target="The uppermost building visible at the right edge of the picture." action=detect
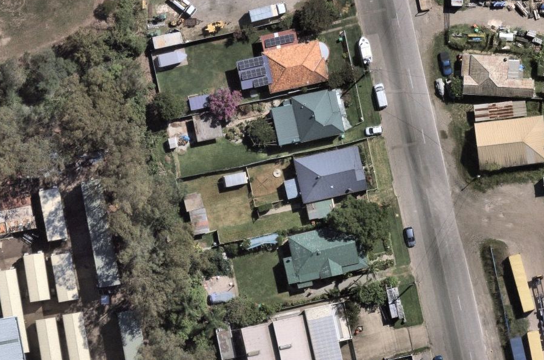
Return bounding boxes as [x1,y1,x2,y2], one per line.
[461,54,535,97]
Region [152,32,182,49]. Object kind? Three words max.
shed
